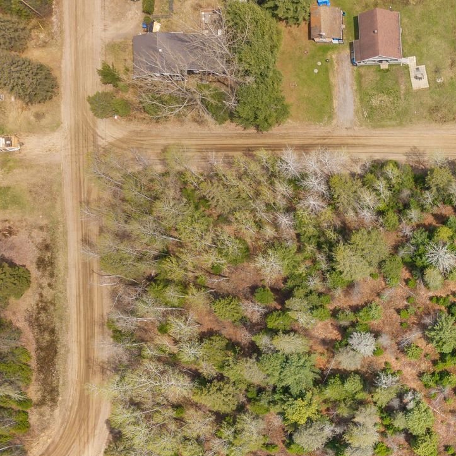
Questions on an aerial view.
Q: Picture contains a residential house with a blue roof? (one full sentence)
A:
No, there isn't any residential house with a blue roof down there.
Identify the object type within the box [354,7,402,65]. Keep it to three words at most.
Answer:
house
